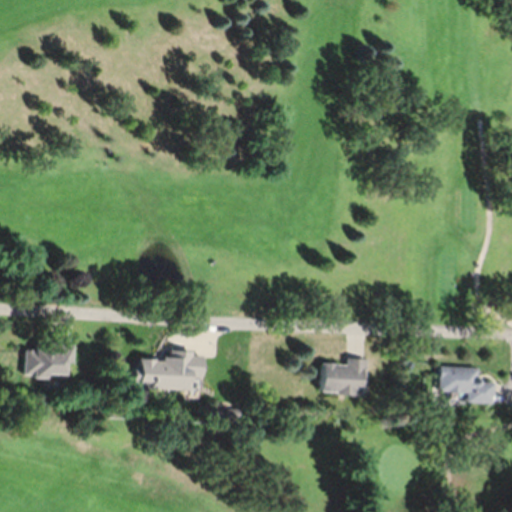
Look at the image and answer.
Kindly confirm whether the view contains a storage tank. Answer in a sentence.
No, there isn't any storage tank down there.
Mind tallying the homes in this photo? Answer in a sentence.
The count of homes comes to 4.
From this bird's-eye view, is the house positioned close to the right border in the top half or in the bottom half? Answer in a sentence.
It is in the bottom half that the house positioned close to the right border appears.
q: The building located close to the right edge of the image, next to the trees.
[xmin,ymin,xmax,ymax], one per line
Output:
[440,366,496,405]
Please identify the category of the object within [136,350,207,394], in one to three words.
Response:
house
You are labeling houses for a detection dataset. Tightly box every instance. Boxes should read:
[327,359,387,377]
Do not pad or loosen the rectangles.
[25,338,77,381]
[322,358,368,398]
[440,366,496,405]
[136,350,207,394]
